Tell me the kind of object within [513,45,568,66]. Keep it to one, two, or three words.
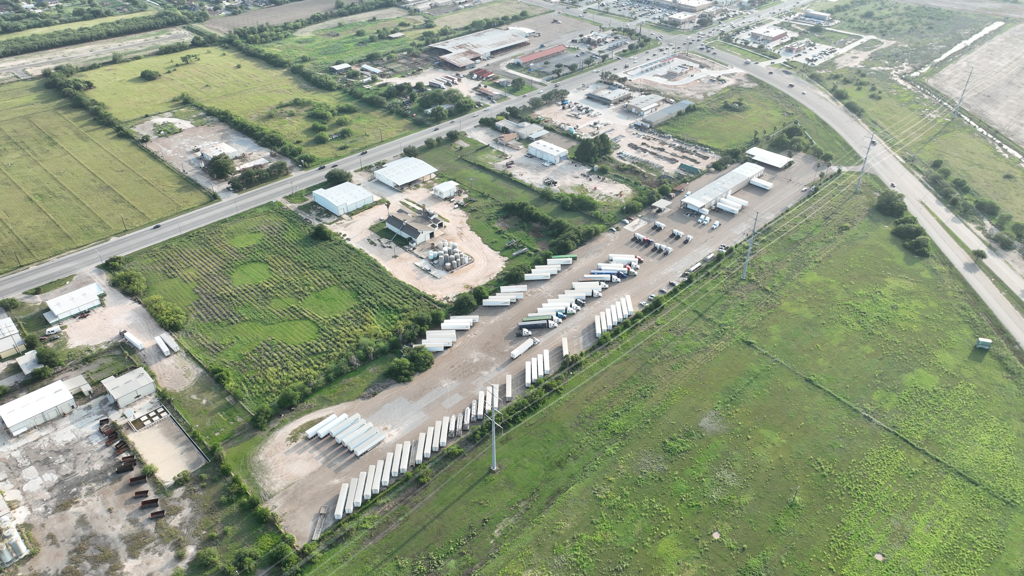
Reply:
building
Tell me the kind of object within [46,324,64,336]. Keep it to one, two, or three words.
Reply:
vehicle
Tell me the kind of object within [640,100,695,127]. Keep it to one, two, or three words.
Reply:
shed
